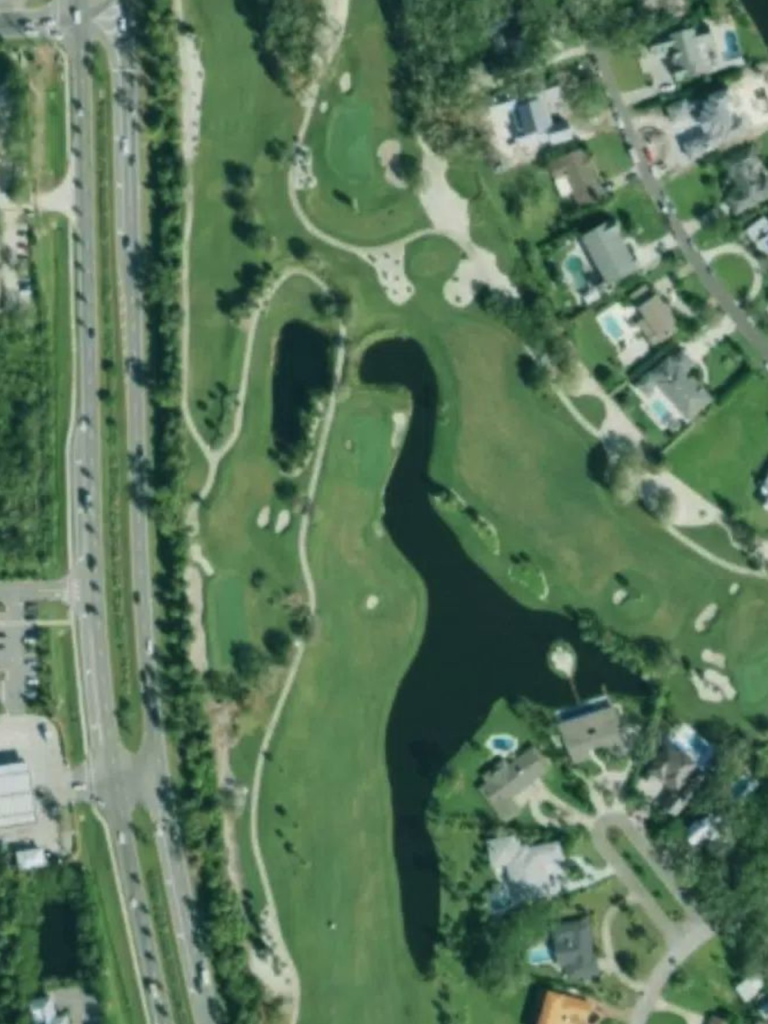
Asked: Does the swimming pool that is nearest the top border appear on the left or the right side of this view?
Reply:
right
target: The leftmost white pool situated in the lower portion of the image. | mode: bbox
[486,733,519,756]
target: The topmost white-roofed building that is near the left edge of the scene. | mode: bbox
[0,764,35,825]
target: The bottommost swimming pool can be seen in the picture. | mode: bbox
[525,942,556,969]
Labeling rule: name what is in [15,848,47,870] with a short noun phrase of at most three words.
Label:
shed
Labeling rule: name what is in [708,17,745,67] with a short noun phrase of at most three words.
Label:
swimming pool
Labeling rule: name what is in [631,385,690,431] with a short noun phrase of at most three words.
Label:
swimming pool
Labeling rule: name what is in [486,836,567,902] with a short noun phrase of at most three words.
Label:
house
